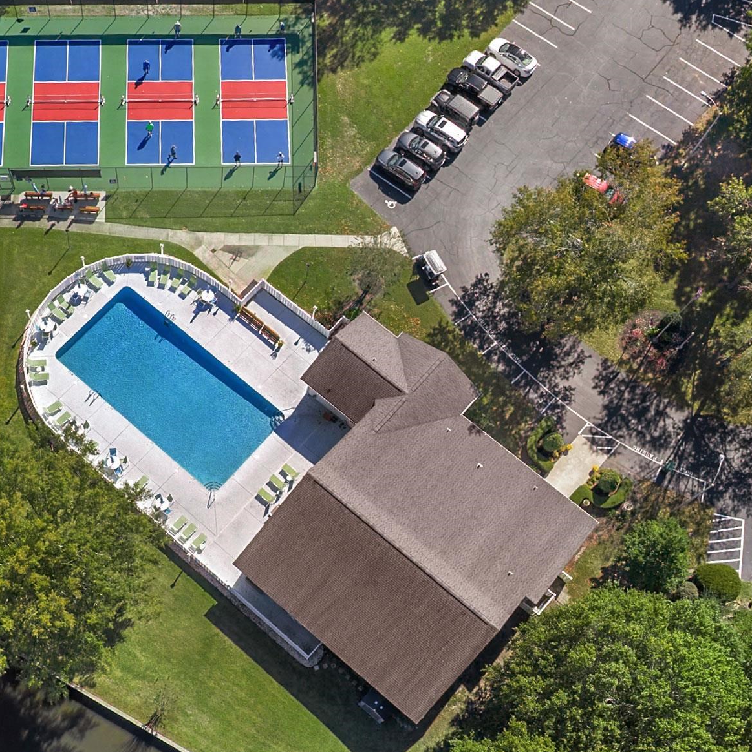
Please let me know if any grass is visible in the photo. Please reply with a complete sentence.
Yes, the picture does contain grass.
